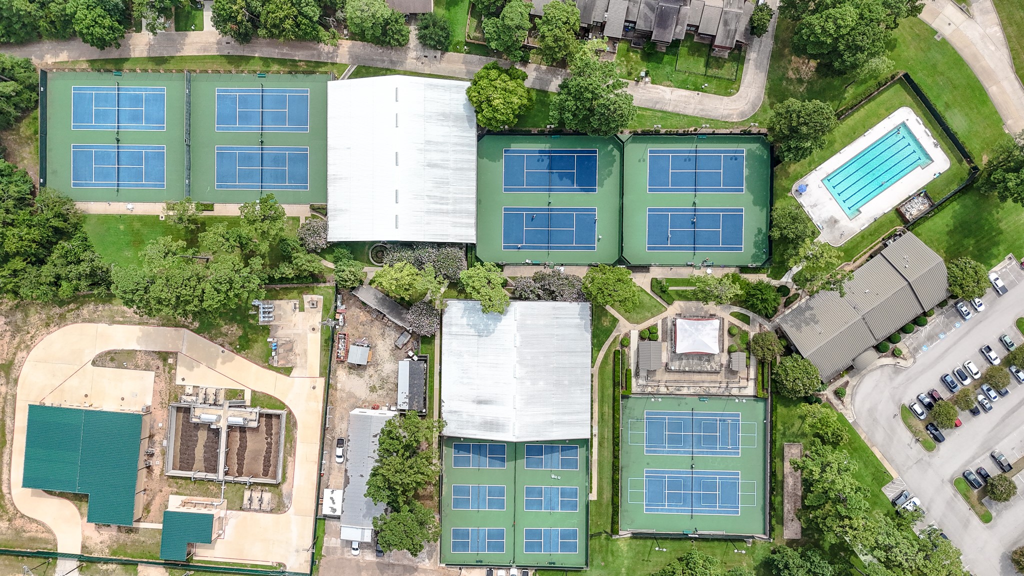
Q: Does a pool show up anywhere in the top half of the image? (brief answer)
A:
Yes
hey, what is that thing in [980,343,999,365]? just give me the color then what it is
white vehicle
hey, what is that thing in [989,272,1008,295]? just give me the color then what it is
white vehicle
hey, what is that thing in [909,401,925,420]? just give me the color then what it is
white car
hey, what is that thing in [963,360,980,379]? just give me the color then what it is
white car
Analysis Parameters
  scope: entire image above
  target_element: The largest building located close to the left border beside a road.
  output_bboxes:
[22,403,150,526]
